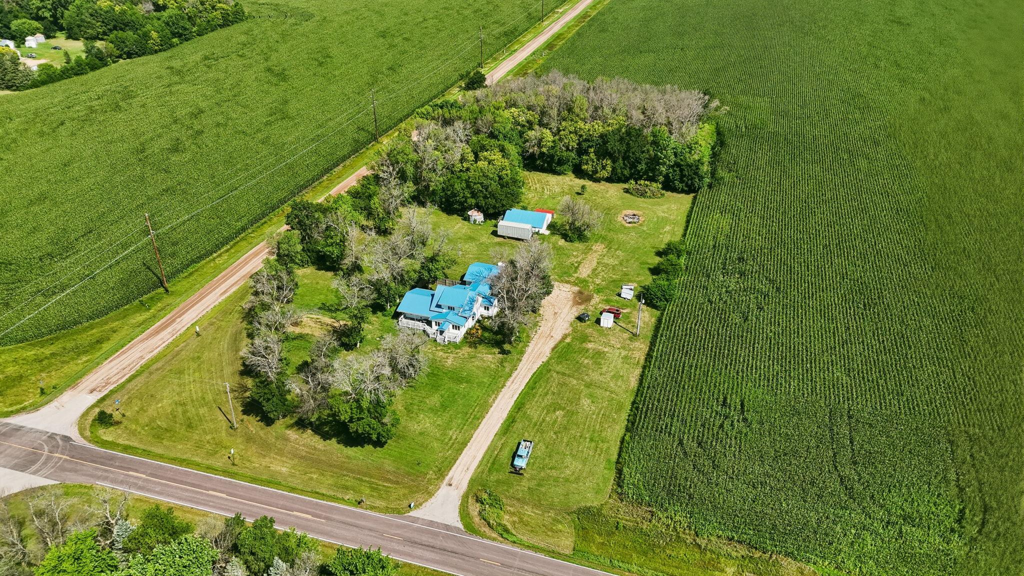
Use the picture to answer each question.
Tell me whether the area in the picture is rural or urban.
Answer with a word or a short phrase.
rural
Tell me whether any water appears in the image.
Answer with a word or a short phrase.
No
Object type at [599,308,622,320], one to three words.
vehicle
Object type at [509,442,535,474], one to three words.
truck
